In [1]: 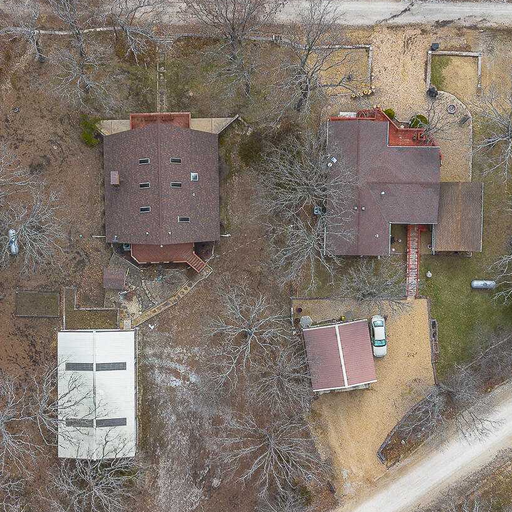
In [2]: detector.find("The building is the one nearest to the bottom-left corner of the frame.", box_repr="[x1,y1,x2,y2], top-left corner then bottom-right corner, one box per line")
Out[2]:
[58,331,136,460]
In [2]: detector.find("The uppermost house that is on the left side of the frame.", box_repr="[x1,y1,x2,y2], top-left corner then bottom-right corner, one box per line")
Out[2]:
[90,123,230,245]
